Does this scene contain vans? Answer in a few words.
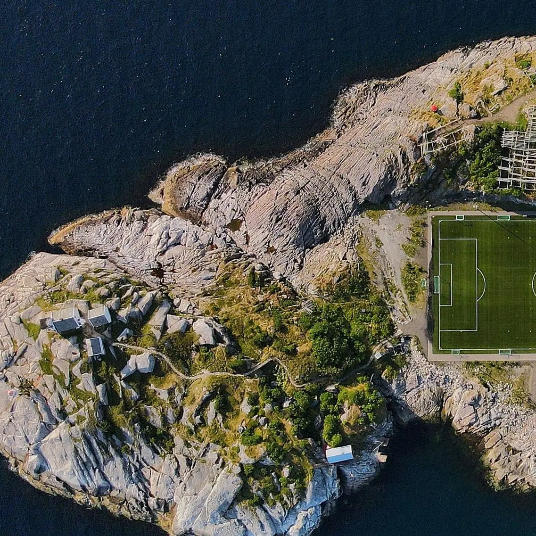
No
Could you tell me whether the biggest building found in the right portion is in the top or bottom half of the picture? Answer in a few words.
bottom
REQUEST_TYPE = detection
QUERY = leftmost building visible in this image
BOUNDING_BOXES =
[40,305,86,335]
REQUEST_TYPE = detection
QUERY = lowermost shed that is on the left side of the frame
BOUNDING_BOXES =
[85,336,105,357]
